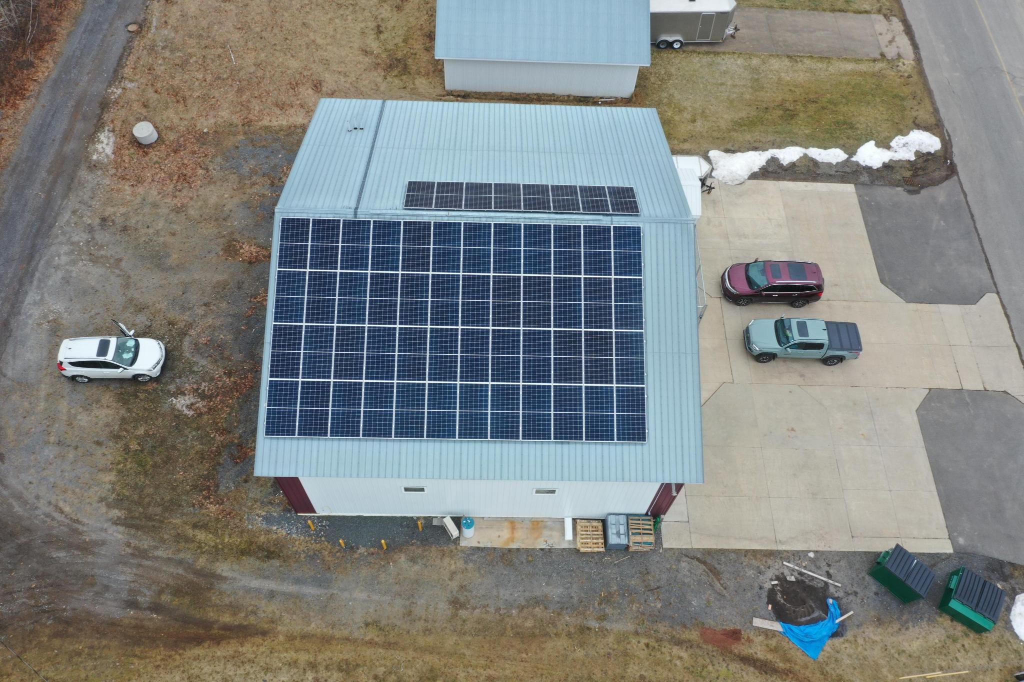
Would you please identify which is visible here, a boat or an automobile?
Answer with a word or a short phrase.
automobile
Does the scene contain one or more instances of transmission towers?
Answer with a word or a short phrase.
No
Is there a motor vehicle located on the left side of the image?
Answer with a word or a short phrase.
Yes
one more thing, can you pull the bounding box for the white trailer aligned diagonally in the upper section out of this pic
[674,156,722,196]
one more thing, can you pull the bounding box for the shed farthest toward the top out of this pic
[434,0,651,96]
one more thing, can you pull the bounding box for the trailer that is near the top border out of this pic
[650,0,744,50]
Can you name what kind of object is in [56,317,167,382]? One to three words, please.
car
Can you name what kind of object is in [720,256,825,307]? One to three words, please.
car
